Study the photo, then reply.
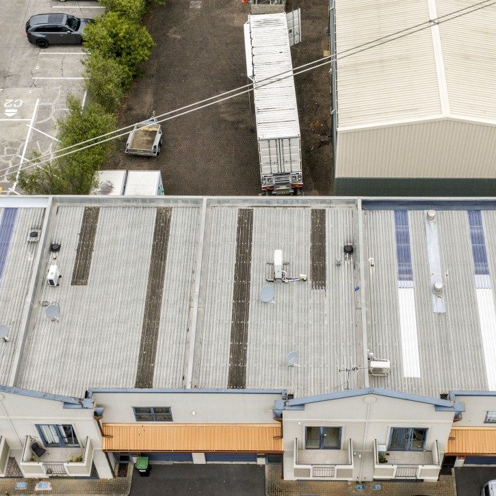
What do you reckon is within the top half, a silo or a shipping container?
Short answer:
shipping container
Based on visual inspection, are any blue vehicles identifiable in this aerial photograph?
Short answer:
No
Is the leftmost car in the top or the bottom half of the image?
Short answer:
top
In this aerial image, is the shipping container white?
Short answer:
Yes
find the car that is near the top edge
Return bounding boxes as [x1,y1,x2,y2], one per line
[26,11,95,43]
